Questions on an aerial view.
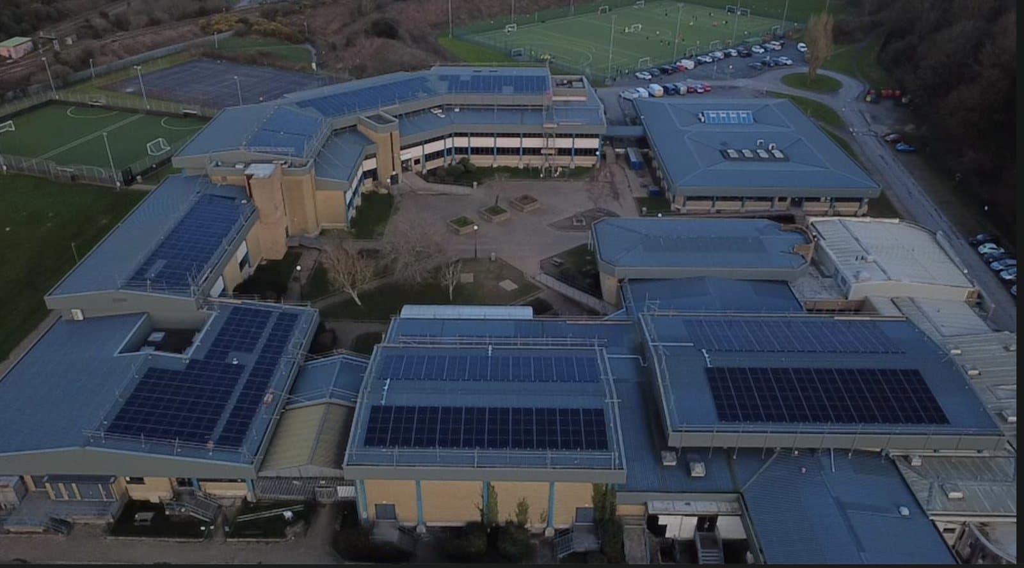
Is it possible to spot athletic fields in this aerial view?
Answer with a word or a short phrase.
Yes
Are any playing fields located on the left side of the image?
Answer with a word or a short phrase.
Yes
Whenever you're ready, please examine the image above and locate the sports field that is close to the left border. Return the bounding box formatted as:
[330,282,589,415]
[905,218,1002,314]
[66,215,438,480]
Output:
[0,101,210,181]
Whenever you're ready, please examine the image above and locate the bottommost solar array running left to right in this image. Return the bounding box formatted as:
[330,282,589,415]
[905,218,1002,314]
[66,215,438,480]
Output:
[361,403,609,455]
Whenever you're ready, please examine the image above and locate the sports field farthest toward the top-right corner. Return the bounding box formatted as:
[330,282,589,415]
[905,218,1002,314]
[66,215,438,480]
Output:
[463,0,803,78]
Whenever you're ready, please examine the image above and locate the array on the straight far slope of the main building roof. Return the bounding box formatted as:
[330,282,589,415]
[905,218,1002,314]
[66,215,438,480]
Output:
[454,73,547,93]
